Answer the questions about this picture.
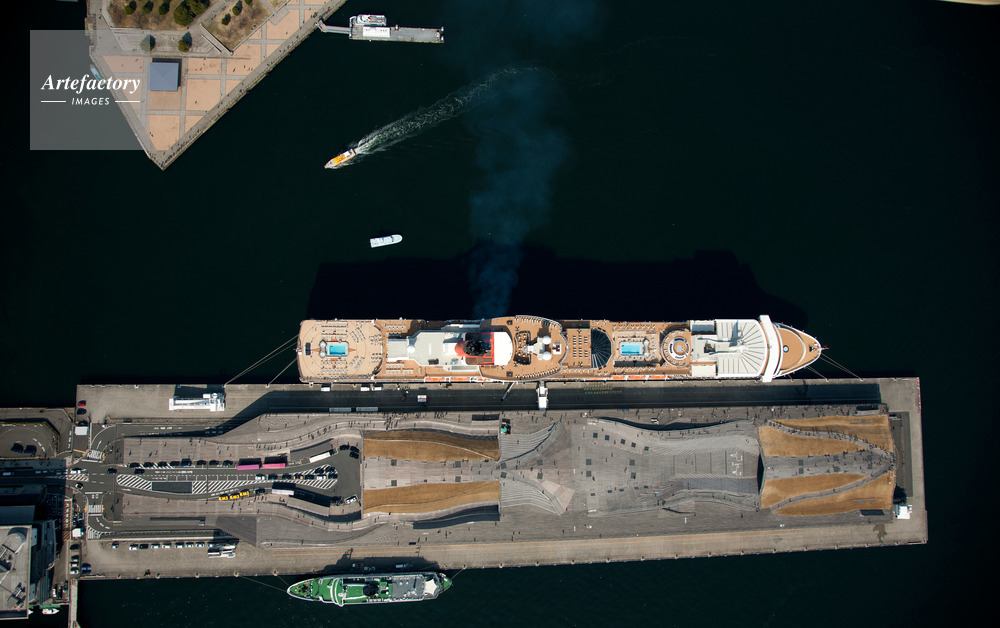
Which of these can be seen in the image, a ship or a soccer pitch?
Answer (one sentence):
The one in the frame is a ship.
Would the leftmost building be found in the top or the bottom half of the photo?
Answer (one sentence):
Seen from above, the leftmost building lies in the bottom half of the view.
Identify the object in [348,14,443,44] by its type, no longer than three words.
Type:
pier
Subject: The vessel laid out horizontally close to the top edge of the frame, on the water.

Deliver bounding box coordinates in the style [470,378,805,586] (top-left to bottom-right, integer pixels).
[355,13,387,25]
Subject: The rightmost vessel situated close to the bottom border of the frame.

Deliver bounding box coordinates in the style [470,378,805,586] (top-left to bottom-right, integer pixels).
[288,572,451,607]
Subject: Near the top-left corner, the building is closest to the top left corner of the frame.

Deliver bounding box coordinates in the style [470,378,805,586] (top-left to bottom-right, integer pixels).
[149,63,180,91]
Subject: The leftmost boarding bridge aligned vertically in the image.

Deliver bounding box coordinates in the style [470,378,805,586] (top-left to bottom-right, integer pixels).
[536,381,549,409]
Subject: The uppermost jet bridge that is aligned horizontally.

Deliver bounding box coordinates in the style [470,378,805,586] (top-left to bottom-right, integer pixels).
[165,394,229,411]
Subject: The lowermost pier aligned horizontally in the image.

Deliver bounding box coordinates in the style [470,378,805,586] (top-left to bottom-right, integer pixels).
[78,377,928,581]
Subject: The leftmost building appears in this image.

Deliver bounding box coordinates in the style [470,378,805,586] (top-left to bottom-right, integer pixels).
[0,504,65,620]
